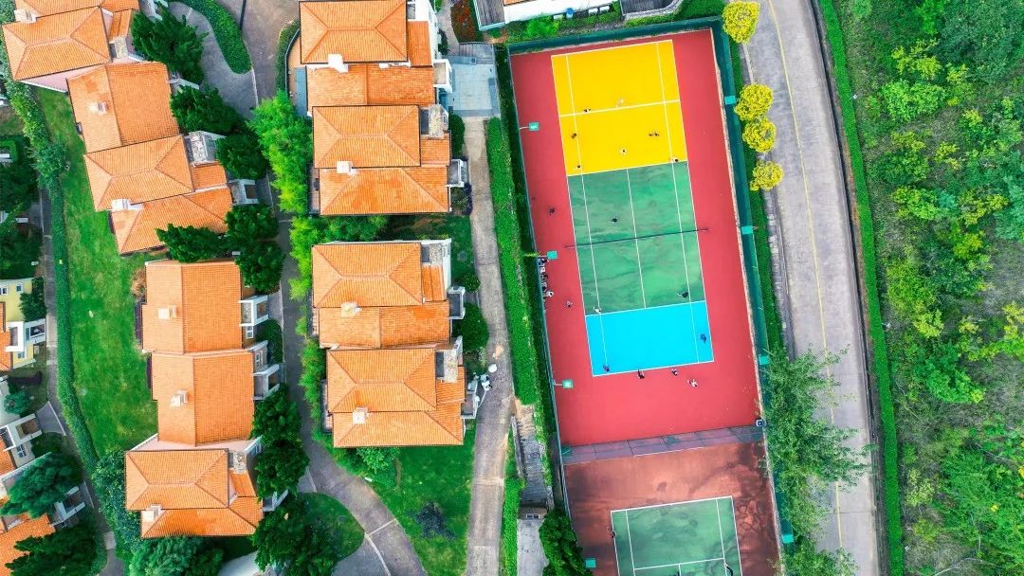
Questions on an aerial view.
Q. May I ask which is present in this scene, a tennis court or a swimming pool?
tennis court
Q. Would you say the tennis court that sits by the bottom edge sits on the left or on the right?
right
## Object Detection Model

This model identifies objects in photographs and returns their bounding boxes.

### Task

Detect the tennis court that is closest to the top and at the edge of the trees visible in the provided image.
[514,29,763,445]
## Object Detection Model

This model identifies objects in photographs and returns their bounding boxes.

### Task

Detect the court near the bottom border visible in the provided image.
[567,434,783,576]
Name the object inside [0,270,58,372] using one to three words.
house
